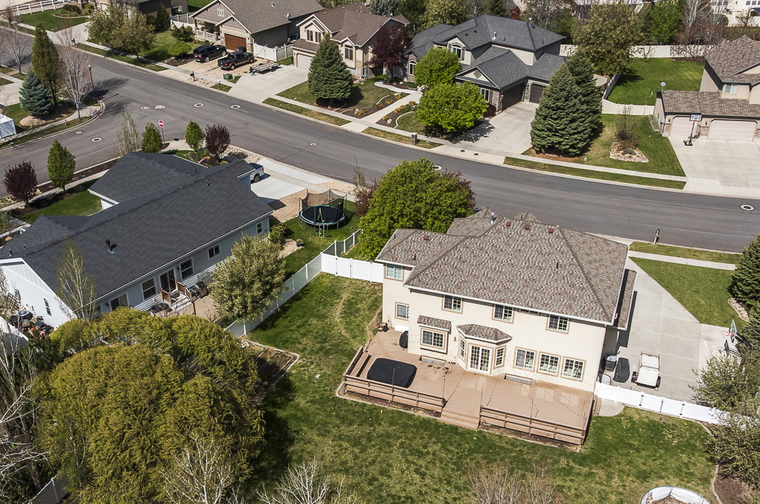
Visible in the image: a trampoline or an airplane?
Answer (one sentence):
It is a trampoline that can be seen here.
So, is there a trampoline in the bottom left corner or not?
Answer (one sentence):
No, I can find no trampoline in the bottom left corner.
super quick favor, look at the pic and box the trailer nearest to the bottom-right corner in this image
[631,349,666,389]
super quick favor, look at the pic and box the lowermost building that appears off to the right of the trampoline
[375,208,644,392]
